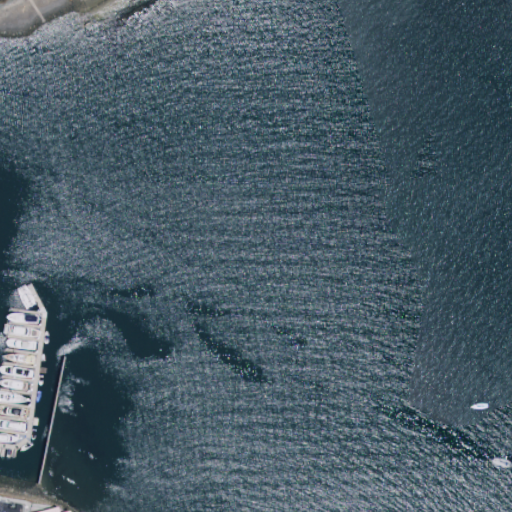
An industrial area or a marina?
marina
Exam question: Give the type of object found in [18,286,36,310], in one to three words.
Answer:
boat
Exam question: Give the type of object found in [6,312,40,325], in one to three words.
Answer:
boat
